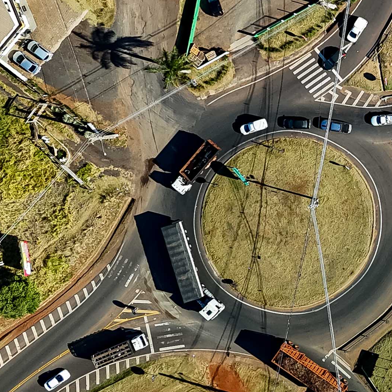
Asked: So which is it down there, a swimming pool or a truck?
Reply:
truck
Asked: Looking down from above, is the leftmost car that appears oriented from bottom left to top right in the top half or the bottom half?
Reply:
bottom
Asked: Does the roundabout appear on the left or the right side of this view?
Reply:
right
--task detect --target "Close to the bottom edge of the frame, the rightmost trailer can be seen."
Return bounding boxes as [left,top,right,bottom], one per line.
[273,342,351,392]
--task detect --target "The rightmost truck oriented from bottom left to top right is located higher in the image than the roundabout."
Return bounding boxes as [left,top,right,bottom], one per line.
[345,15,370,45]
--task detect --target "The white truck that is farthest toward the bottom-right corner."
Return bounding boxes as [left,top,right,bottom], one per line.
[198,278,225,321]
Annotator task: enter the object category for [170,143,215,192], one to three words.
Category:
truck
